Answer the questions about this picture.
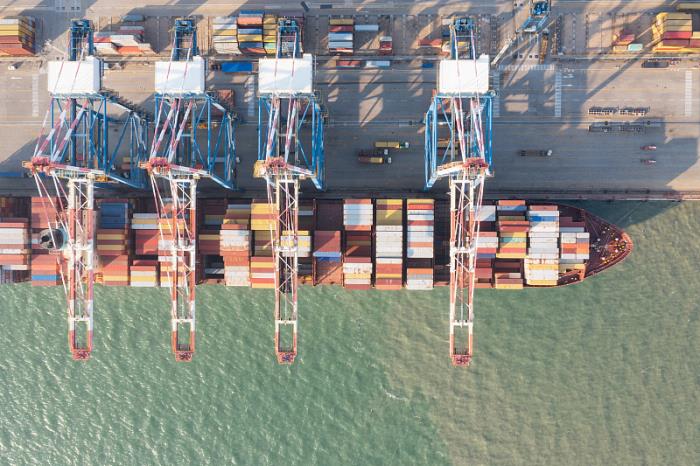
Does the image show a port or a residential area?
port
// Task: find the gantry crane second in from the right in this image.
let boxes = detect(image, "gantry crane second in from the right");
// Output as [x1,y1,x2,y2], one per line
[416,18,494,363]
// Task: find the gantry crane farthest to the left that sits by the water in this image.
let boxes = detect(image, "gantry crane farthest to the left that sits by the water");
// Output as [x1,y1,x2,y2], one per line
[20,18,150,363]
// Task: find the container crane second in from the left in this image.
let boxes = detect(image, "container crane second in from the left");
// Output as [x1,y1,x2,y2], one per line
[139,18,239,363]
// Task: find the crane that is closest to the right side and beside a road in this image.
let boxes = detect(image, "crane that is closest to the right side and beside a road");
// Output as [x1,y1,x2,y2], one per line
[518,0,554,35]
